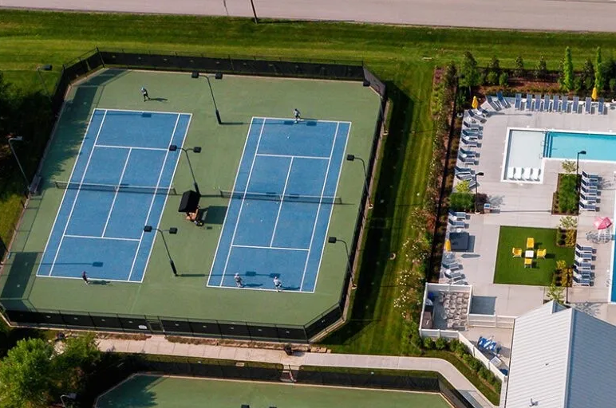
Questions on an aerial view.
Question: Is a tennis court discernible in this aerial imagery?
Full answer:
Yes, there's a tennis court down there.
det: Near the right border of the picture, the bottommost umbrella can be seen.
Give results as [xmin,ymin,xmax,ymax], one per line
[593,215,616,241]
